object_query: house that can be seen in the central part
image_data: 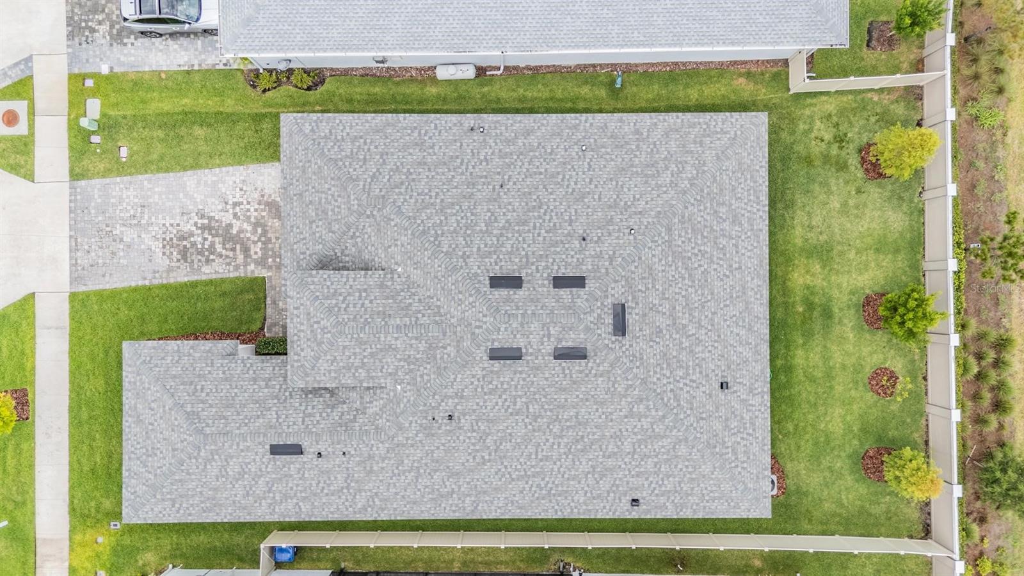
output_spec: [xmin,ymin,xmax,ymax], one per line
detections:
[122,112,771,523]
